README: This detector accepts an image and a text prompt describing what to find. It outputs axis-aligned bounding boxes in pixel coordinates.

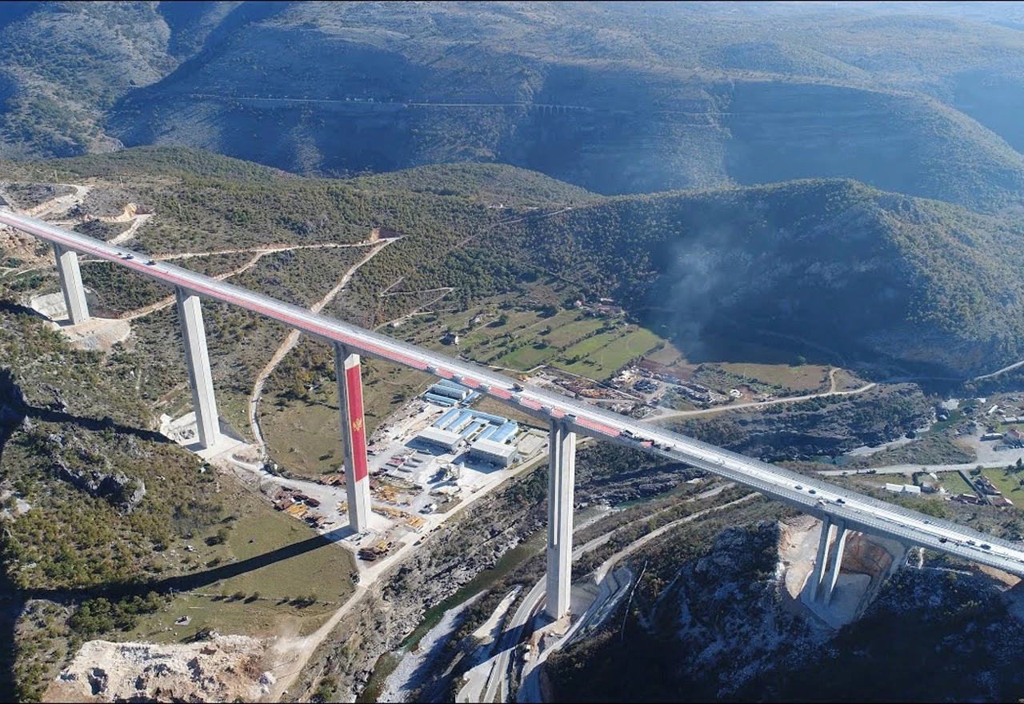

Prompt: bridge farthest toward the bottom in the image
[0,203,1024,621]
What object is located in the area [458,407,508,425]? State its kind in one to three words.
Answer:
building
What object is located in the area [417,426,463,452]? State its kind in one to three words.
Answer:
shed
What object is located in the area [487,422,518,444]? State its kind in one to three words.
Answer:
building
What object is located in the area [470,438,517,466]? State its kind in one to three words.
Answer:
shed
